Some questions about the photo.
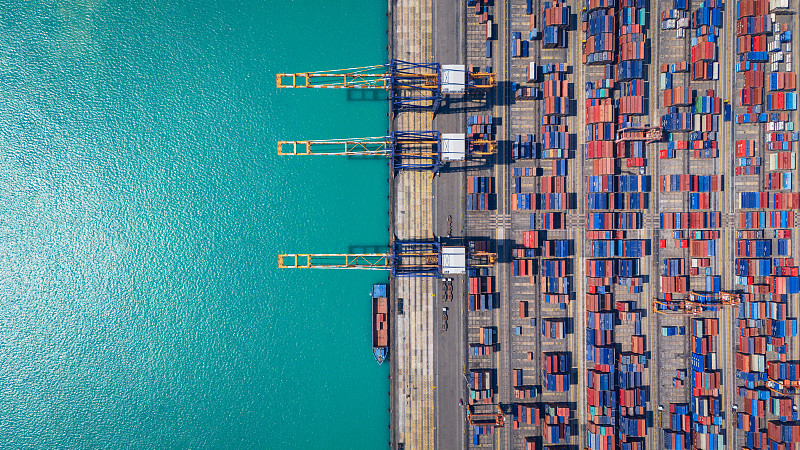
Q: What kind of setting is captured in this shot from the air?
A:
port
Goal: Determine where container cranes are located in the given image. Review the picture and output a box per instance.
[689,290,745,306]
[465,403,507,427]
[616,126,667,144]
[278,236,496,280]
[277,62,495,120]
[652,298,706,316]
[277,130,495,178]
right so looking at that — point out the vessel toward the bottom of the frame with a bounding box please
[370,274,391,373]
